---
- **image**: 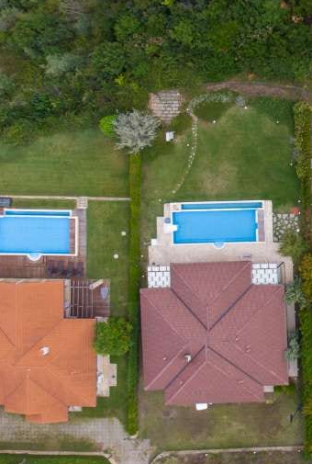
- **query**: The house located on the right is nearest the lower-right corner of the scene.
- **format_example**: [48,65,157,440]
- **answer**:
[140,260,290,412]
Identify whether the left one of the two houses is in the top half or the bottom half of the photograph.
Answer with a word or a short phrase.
bottom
